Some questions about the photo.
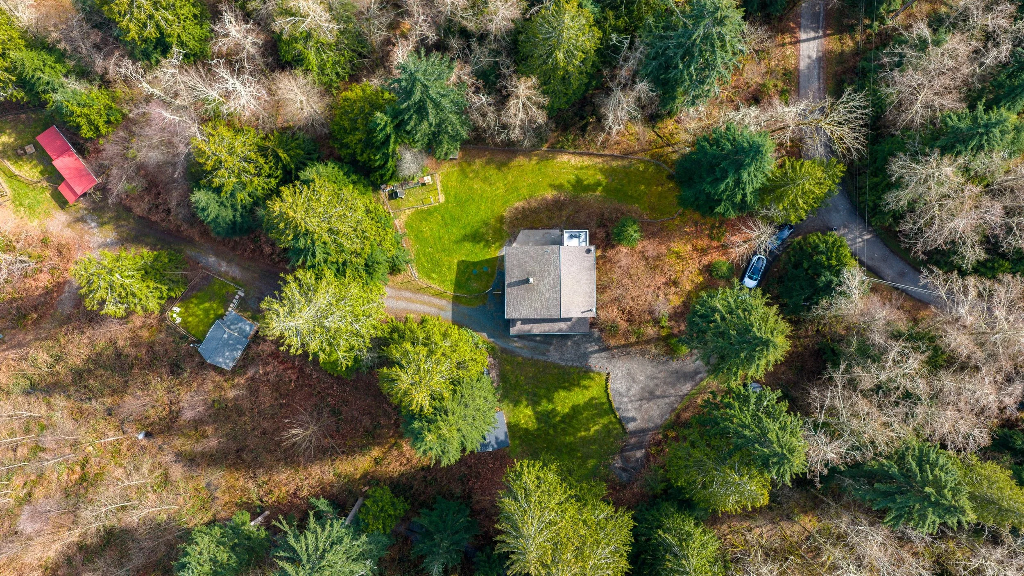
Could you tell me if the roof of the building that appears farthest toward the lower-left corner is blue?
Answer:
Yes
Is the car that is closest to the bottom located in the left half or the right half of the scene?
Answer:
right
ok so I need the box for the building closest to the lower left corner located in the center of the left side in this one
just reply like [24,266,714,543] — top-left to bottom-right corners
[198,319,254,371]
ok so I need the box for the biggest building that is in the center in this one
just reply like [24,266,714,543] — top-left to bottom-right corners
[504,244,596,334]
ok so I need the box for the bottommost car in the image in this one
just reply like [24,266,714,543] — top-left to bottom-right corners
[741,253,767,289]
